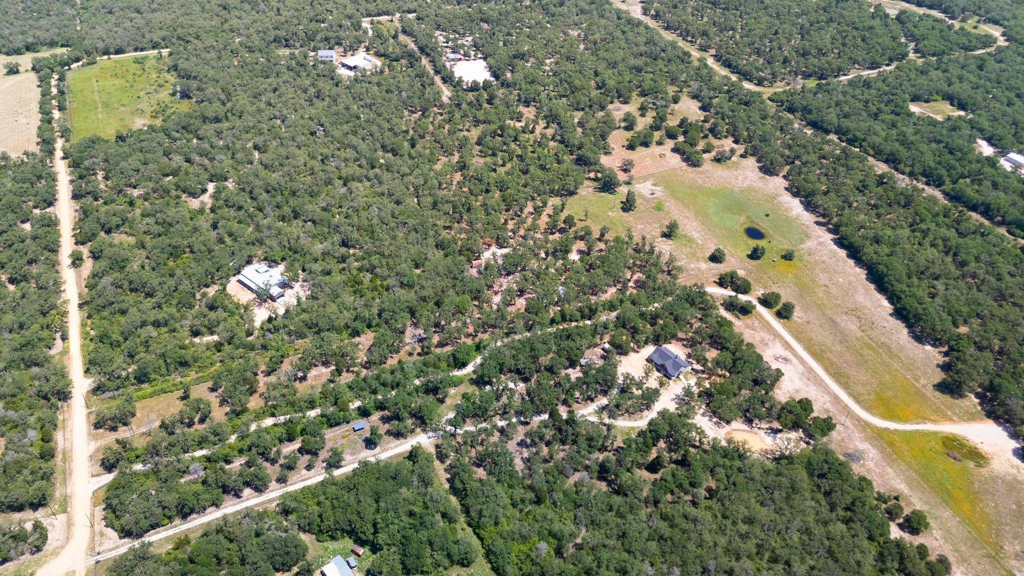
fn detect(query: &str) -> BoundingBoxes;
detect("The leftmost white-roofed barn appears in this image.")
[237,263,293,298]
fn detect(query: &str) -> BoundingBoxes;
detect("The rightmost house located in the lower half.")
[647,345,693,381]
